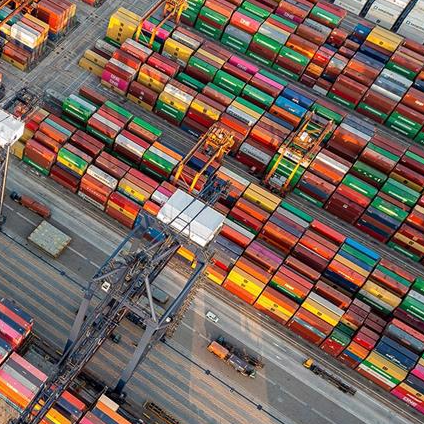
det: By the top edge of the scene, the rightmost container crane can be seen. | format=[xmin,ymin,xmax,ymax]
[133,0,188,50]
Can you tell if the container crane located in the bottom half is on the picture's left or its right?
left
